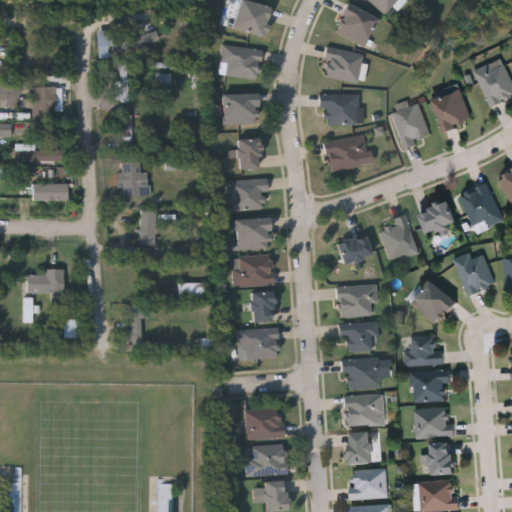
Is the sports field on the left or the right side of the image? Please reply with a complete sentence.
It is on the left.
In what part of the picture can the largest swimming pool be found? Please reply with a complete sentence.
The largest swimming pool appears toward the right of the photo.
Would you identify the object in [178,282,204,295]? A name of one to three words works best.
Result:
house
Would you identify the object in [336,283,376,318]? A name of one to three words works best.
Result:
house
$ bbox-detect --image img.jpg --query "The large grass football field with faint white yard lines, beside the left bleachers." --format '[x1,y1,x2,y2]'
[36,400,142,512]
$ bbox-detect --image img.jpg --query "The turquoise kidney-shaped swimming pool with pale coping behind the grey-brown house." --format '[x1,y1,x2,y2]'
[436,232,460,253]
